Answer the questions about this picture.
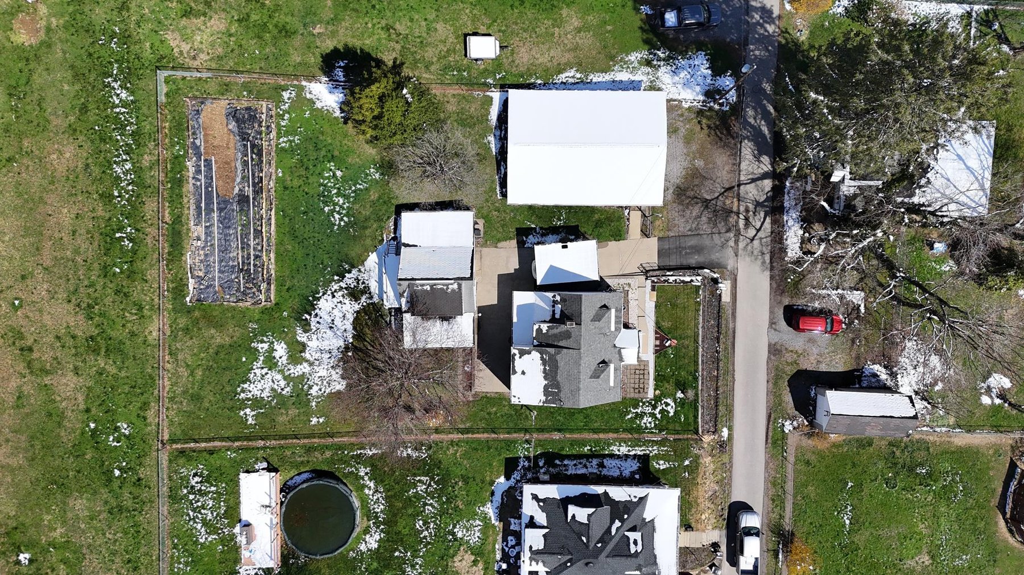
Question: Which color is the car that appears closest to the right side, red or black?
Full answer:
The car that appears closest to the right side looks red in the image.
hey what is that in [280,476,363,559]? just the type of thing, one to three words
swimming pool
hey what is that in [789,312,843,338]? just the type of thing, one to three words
car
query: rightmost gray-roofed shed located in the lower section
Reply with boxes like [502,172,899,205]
[806,388,918,438]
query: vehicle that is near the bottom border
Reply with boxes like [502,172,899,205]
[732,508,762,575]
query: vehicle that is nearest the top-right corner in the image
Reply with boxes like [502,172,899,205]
[654,1,722,32]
